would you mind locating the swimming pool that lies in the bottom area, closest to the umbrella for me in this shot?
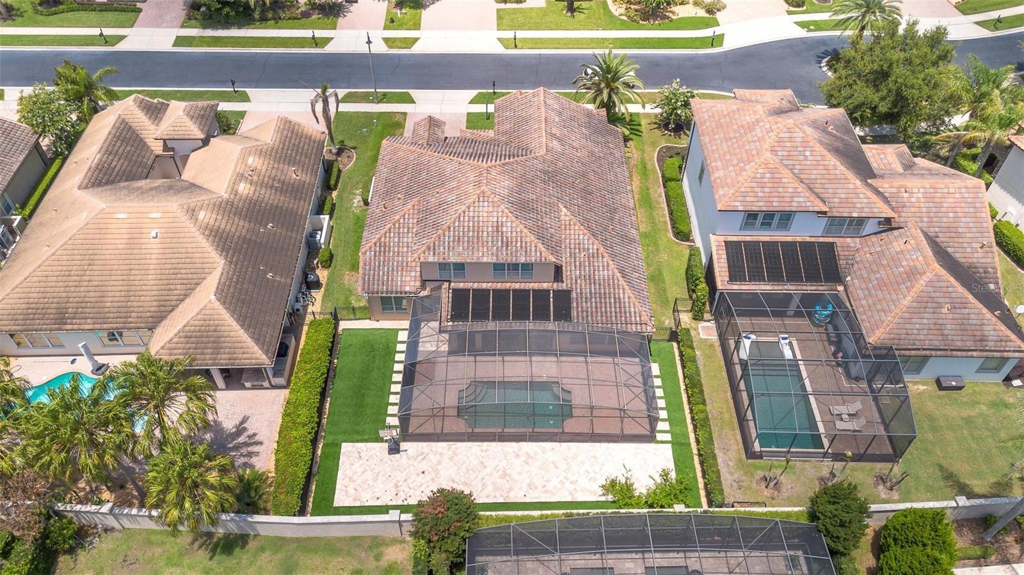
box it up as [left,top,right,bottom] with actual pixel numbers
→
[8,367,155,439]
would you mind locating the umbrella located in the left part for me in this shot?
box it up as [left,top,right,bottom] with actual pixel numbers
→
[82,347,113,377]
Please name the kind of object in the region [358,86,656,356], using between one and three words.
house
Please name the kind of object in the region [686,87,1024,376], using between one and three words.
house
